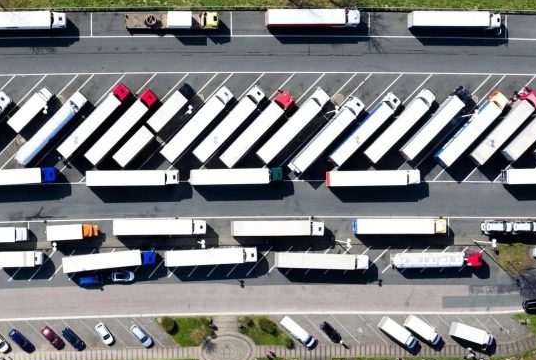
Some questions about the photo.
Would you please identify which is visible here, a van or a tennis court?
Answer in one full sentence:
Of the two, only a van appears.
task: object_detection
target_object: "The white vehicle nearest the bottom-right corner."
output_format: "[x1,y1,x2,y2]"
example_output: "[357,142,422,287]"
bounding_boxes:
[445,320,495,347]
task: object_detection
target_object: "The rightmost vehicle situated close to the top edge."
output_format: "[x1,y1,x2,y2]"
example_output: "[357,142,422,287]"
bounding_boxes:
[406,11,501,30]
